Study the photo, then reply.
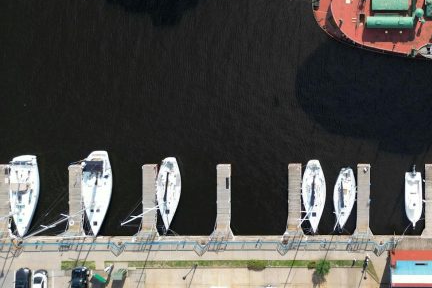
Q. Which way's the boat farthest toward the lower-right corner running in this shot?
from top to bottom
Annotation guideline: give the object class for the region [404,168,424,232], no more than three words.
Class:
boat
